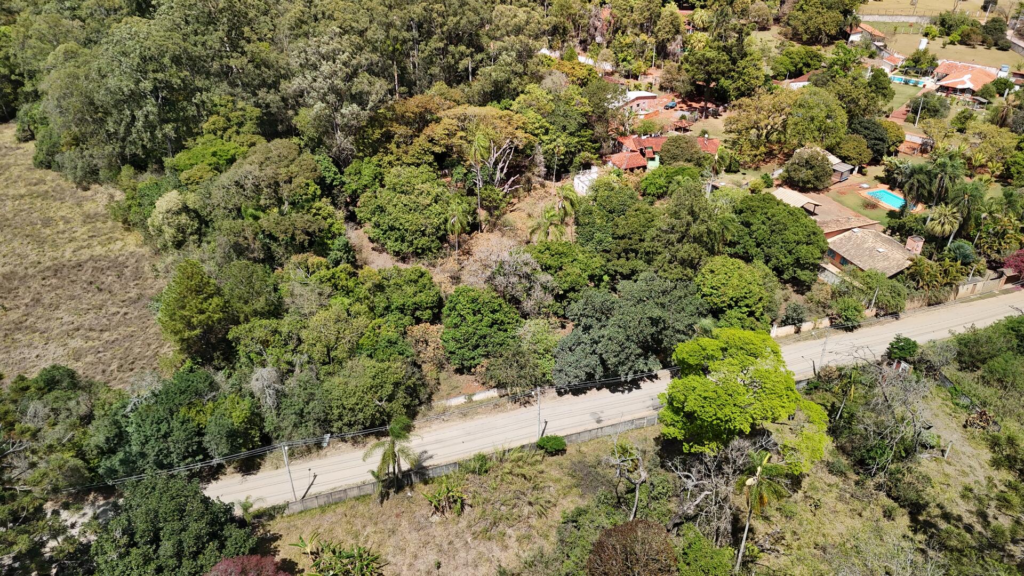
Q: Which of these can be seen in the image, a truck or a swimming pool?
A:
swimming pool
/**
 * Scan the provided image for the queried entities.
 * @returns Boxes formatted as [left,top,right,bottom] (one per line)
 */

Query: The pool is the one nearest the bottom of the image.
[858,183,921,212]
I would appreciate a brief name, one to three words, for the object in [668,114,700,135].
gazebo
